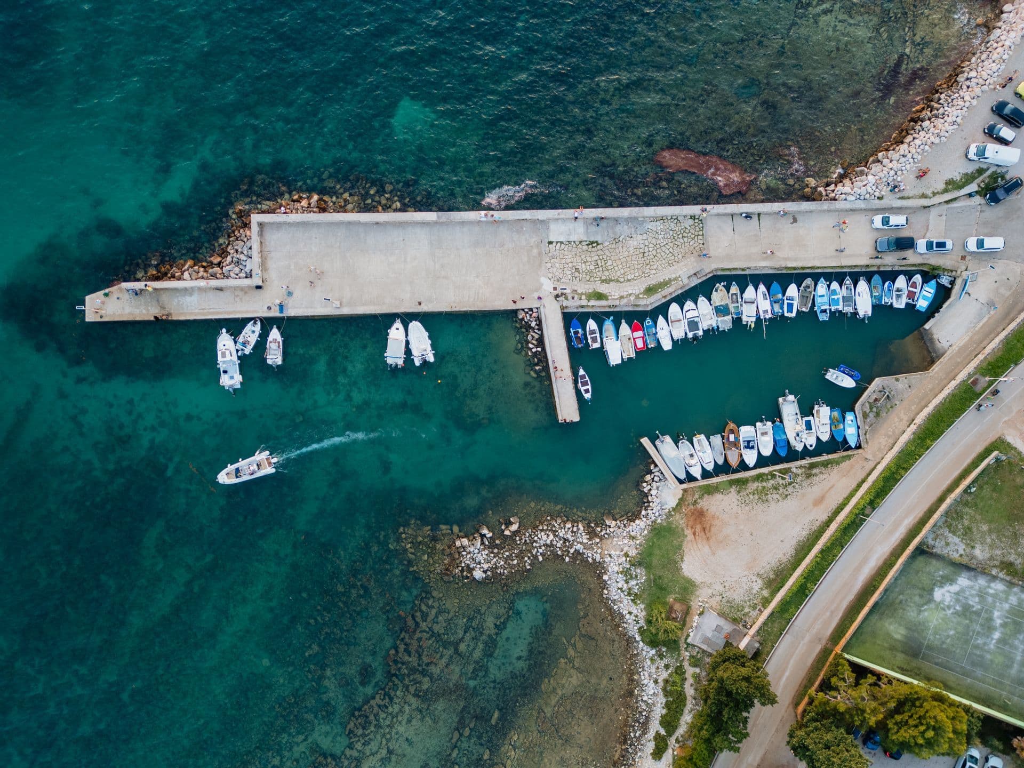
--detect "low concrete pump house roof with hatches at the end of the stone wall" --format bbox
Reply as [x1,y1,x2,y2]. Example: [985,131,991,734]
[686,602,757,654]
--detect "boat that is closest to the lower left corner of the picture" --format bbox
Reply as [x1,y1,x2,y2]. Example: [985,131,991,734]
[217,451,280,485]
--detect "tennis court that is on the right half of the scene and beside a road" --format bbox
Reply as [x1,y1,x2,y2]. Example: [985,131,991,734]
[840,543,1024,726]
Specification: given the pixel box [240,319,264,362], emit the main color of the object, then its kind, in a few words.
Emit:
white boat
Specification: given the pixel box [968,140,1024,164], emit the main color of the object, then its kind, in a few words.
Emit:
white vehicle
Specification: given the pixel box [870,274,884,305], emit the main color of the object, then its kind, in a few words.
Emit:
blue boat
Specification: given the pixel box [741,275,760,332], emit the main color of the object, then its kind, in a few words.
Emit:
white boat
